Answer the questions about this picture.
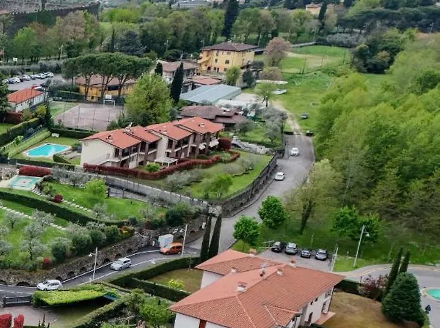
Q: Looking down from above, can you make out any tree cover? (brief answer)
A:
Yes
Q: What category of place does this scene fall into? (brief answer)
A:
residential area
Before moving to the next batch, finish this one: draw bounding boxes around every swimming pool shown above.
[0,175,41,192]
[21,142,71,160]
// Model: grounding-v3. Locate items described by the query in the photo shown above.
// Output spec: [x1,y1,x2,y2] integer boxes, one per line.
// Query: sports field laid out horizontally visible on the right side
[280,51,336,70]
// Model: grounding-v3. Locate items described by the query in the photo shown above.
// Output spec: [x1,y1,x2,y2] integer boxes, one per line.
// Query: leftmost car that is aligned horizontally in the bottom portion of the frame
[35,278,64,292]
